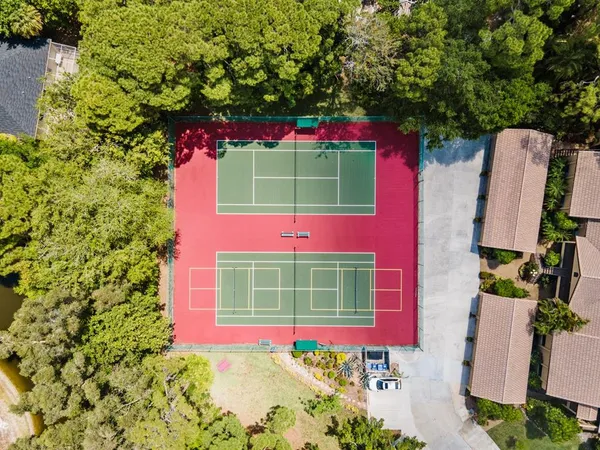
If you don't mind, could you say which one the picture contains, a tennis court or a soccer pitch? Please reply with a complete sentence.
I can see a tennis court in this picture.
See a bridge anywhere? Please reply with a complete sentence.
No, the photo shows no bridge.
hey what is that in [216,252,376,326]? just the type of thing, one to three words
tennis court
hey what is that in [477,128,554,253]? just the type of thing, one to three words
building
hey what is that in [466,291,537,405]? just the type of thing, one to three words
building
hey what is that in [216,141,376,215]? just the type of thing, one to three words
tennis court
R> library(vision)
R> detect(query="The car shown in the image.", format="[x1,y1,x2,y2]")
[369,376,401,393]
